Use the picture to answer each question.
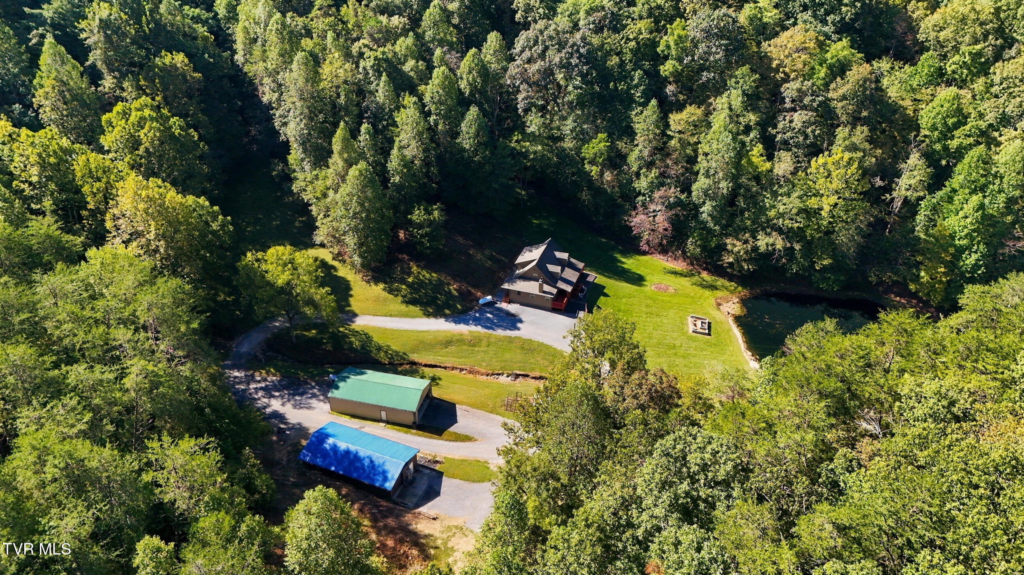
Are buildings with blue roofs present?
Yes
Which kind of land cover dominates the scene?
trees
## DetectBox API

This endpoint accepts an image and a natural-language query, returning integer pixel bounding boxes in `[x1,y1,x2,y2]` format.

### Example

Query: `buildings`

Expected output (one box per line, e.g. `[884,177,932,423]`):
[327,367,431,425]
[299,421,421,501]
[501,238,584,311]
